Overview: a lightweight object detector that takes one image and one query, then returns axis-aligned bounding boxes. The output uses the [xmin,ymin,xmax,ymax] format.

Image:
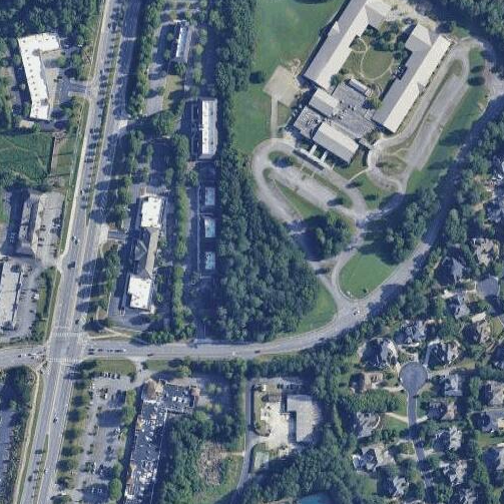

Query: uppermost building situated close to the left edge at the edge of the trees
[18,32,60,120]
